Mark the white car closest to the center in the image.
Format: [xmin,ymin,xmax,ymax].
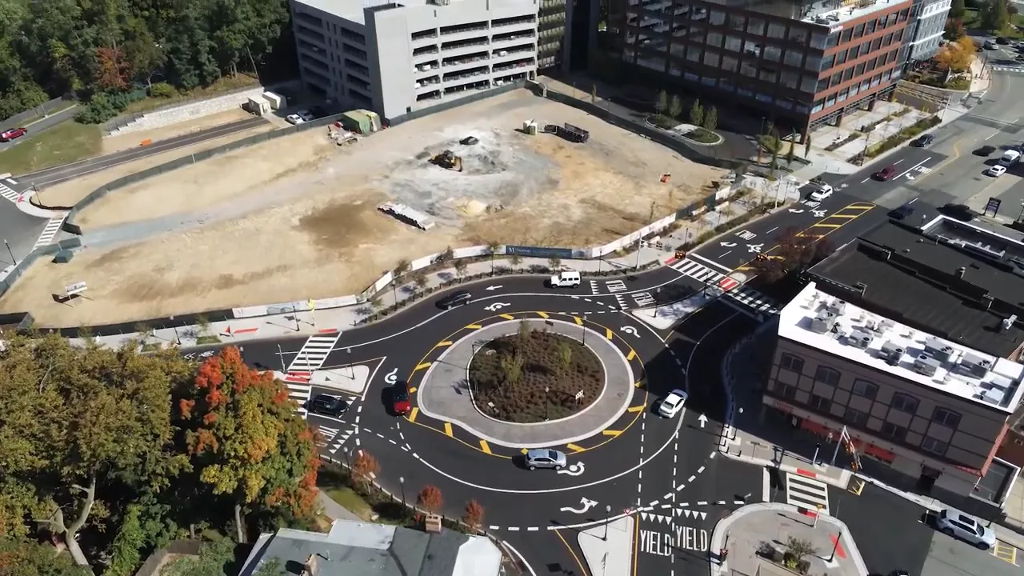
[551,270,581,287]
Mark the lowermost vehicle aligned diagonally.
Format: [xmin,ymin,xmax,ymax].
[940,507,1000,550]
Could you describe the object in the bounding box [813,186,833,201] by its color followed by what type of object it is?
white car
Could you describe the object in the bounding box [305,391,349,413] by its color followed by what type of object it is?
black car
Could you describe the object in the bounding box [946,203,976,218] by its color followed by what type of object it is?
black car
